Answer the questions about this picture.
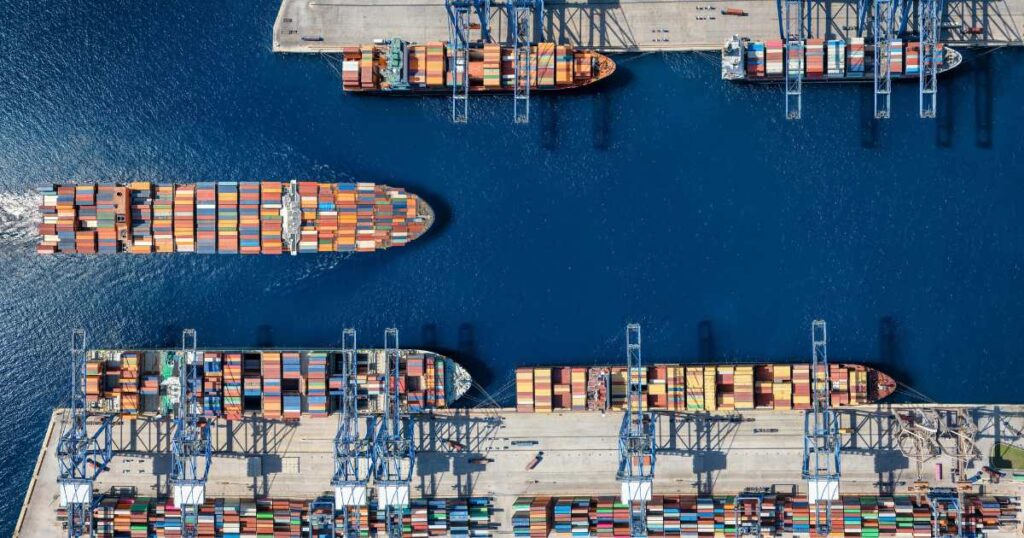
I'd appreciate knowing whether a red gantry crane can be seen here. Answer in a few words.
No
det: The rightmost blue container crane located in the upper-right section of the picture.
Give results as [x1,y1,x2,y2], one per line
[891,0,952,118]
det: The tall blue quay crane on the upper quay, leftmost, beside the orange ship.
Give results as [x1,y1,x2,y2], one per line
[441,0,491,123]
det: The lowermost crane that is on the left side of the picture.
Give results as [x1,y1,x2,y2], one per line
[309,493,335,538]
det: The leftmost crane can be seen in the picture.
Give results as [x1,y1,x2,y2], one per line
[41,331,130,534]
